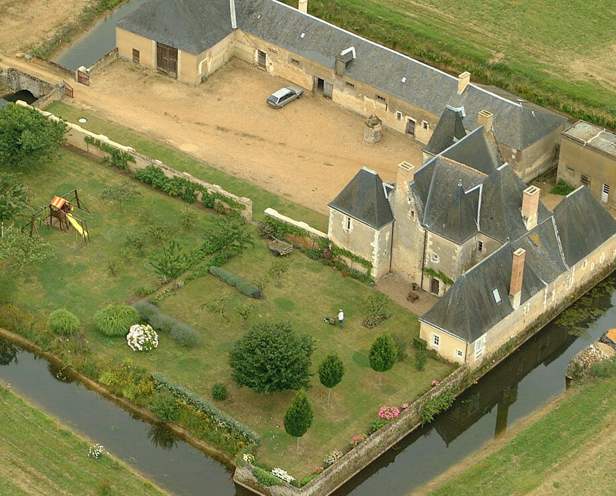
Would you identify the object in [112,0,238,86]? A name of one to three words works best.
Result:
barn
